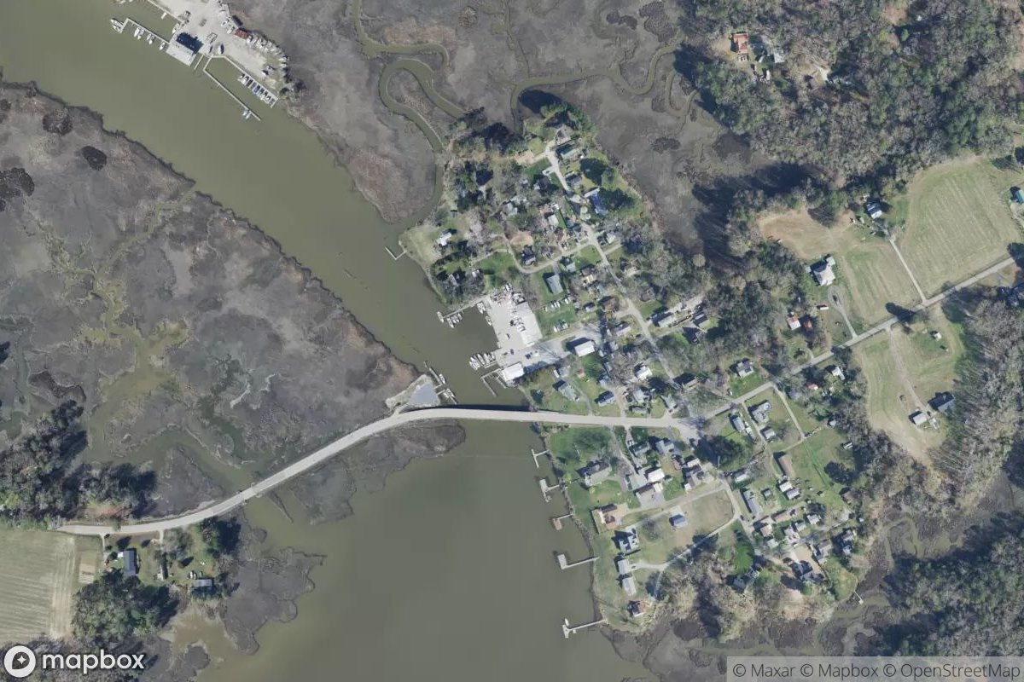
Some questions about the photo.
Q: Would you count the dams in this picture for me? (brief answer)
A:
0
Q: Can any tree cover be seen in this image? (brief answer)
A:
Yes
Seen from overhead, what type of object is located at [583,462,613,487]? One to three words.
house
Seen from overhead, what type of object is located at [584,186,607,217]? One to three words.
house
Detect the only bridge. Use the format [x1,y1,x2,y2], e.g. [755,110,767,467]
[412,409,529,422]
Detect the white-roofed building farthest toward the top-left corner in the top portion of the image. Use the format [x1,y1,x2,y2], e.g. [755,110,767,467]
[165,39,197,67]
